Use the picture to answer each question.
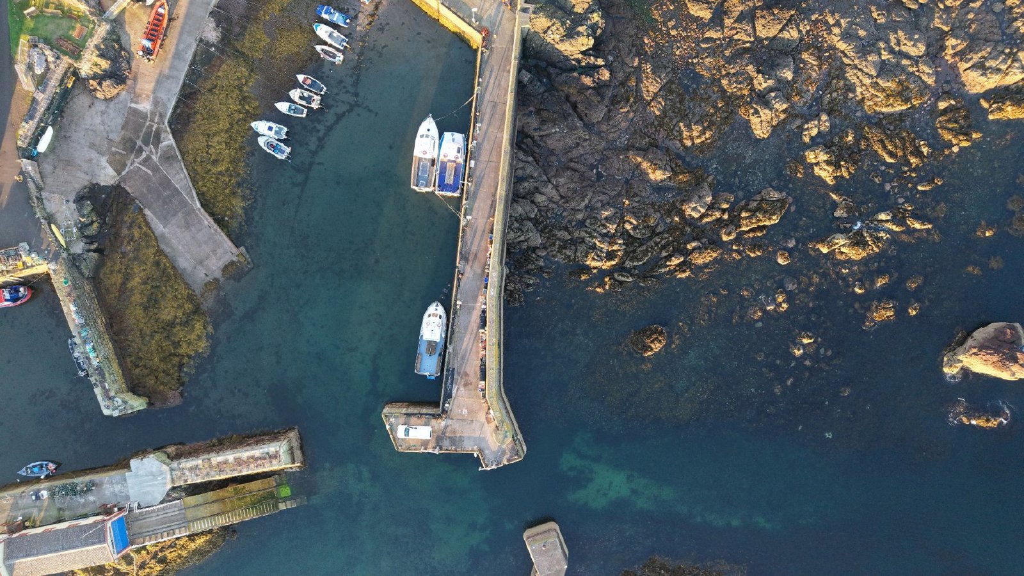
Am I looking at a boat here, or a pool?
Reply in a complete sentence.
The image shows a boat.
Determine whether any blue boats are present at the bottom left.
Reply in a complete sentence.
Yes, I can see a blue boat at the bottom left.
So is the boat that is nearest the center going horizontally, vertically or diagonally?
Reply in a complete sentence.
In this picture, the boat that is nearest the center lies vertically.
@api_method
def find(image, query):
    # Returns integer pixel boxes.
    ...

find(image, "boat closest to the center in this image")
[416,302,449,378]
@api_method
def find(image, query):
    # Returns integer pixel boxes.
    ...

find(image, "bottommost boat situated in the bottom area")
[17,461,61,477]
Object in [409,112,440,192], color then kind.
white boat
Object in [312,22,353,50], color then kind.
white boat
